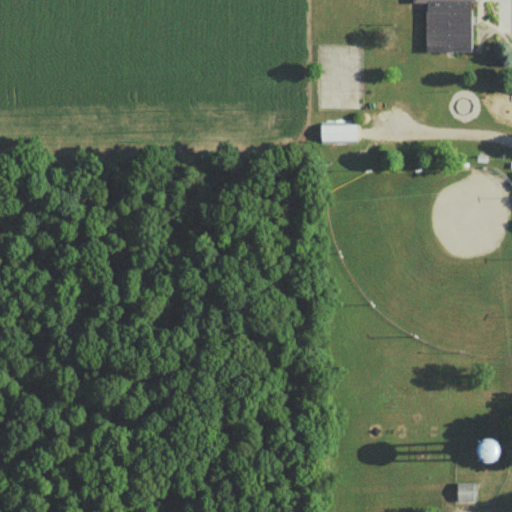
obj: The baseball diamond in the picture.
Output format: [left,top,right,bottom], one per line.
[329,170,510,358]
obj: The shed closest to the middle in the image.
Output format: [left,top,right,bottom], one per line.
[322,122,360,141]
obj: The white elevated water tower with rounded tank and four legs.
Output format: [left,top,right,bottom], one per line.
[474,439,500,465]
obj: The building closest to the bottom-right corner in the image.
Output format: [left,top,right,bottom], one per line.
[458,484,478,503]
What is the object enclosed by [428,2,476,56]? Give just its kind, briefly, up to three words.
building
